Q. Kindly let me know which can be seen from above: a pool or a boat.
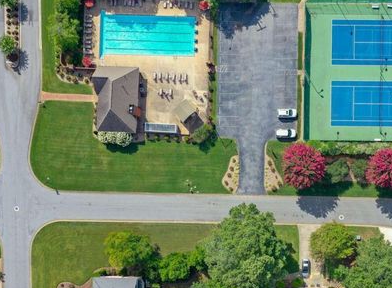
pool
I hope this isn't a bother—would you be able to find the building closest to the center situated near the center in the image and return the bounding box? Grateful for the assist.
[174,101,204,133]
